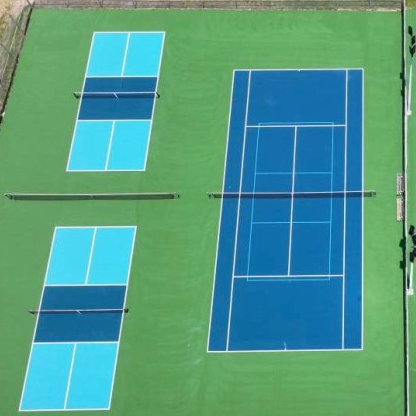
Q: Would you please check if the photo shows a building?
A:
No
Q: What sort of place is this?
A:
sports ground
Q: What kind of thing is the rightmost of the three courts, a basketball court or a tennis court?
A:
tennis court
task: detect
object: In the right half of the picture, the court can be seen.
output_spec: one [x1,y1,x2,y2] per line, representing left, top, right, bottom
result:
[207,69,363,352]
